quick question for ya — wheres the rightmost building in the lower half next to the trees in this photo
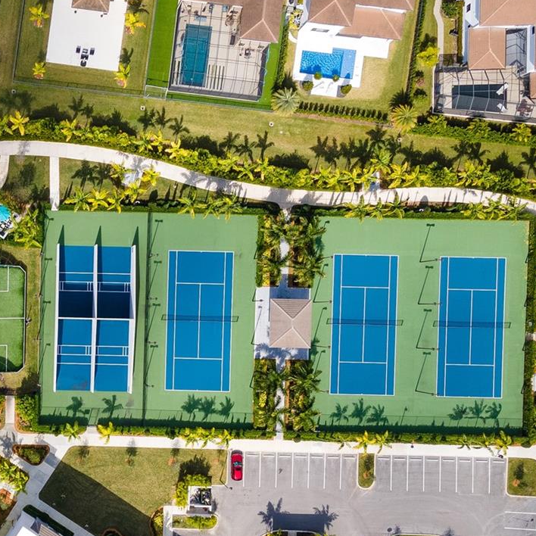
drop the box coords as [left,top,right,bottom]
[267,298,312,349]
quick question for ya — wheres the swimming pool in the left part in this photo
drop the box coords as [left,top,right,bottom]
[181,24,212,86]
